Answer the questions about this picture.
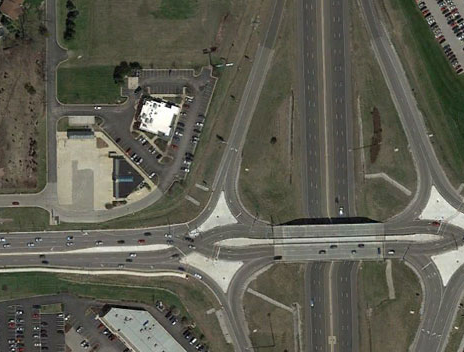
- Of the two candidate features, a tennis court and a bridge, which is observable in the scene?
bridge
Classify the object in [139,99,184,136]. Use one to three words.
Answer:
building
